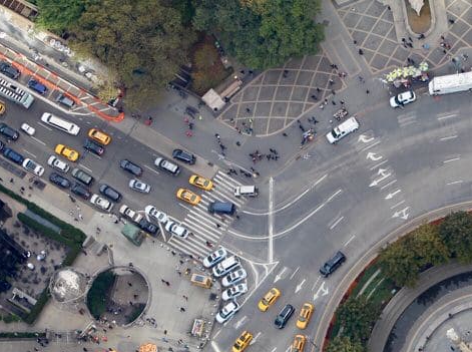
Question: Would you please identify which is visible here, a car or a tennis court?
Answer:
car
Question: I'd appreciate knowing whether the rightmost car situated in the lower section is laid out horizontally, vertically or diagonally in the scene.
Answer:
diagonally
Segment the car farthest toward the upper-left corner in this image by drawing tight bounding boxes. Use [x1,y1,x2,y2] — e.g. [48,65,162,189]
[0,59,22,80]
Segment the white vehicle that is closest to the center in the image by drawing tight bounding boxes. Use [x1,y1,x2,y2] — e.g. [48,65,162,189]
[233,182,259,195]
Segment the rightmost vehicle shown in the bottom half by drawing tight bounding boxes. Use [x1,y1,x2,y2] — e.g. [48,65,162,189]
[318,249,346,273]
